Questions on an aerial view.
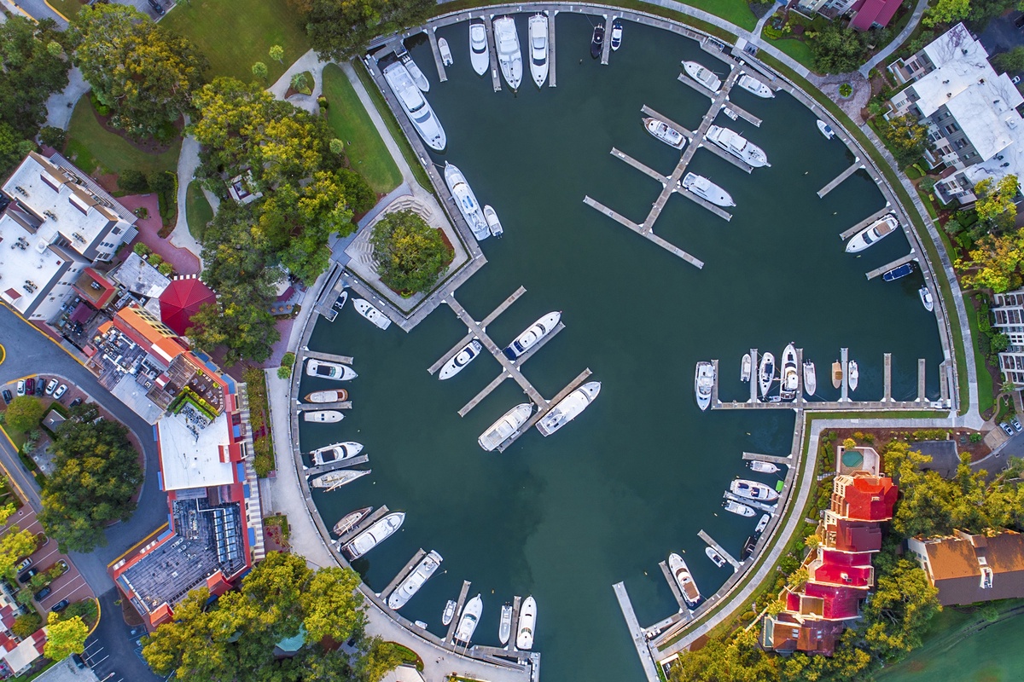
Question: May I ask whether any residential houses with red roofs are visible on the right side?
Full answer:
Yes, a residential house with a red roof is visible on the right side.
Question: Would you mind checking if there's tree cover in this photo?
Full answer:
Yes, tree cover can be seen from above here.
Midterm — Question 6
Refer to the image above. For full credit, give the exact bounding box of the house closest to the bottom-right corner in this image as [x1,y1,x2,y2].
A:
[903,528,1024,606]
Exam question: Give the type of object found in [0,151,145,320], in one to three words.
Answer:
building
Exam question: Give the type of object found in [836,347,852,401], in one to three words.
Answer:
pier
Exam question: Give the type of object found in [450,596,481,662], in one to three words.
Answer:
boat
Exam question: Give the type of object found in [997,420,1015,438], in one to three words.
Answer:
car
